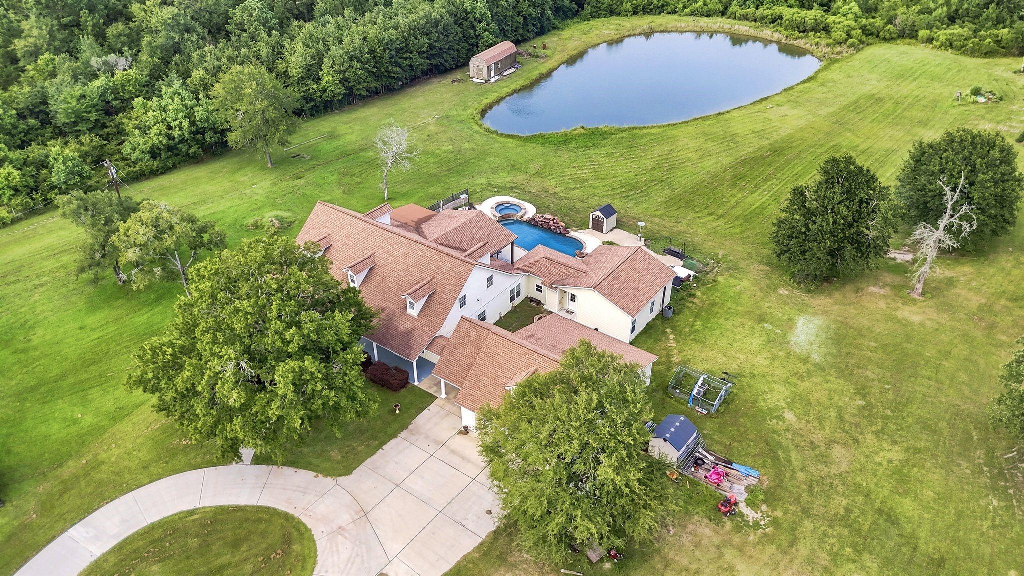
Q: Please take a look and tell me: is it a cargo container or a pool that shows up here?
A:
pool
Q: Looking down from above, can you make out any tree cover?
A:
Yes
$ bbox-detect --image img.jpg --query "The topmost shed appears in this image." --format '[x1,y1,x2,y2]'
[468,44,524,81]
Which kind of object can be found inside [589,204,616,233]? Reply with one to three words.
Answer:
shed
